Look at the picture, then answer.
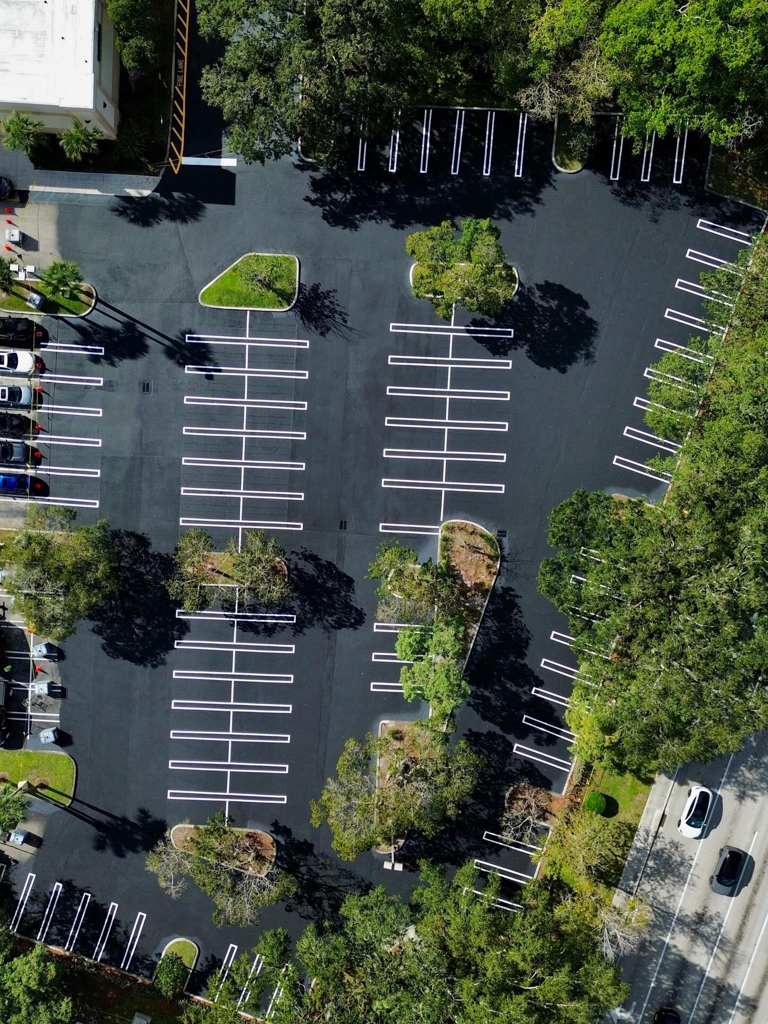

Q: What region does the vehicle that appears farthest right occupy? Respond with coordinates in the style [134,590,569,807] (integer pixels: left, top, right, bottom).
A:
[709,841,743,896]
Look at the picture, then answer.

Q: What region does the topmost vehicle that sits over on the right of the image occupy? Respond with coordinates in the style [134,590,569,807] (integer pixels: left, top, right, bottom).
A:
[676,781,709,835]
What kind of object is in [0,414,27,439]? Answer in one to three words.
car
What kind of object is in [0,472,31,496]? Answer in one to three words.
car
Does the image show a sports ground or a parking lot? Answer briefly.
parking lot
